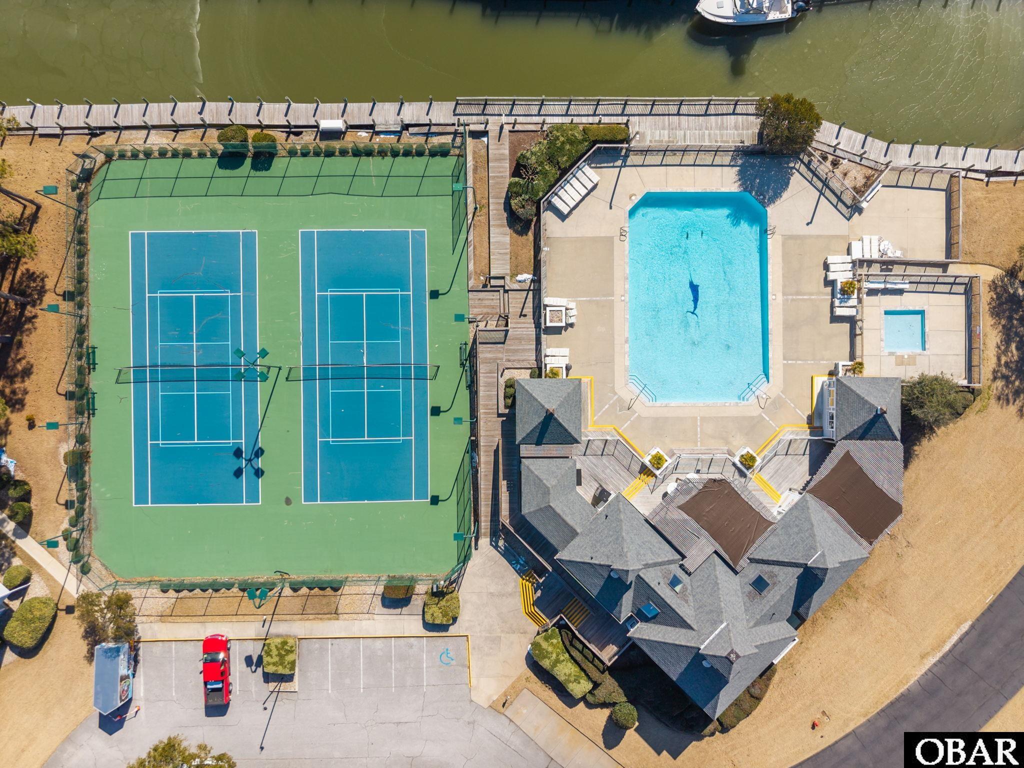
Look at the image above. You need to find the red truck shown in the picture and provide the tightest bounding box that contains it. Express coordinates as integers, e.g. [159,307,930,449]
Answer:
[199,631,233,705]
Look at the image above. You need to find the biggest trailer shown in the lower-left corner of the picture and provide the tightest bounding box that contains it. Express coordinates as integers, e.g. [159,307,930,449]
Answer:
[90,633,137,720]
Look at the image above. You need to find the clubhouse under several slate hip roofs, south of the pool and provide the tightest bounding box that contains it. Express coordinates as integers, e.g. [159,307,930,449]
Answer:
[521,458,869,720]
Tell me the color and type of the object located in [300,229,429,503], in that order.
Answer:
blue tennis court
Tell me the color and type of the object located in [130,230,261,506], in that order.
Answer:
blue tennis court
